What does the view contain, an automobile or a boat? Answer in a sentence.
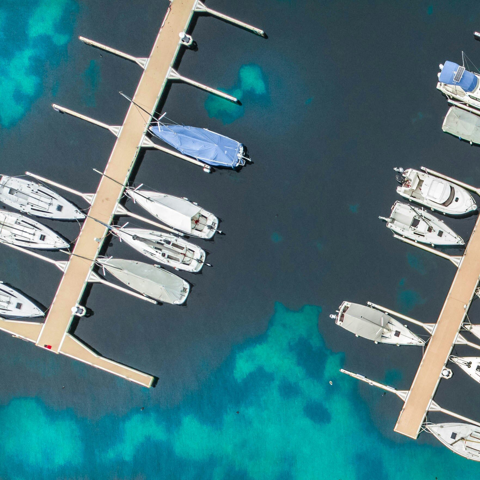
There is a boat in the scene.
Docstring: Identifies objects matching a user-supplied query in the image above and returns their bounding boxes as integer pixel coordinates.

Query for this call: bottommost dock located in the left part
[58,333,155,387]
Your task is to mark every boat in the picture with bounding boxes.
[0,174,91,232]
[430,56,480,111]
[0,282,52,329]
[379,199,472,260]
[0,207,76,262]
[57,246,194,301]
[420,412,480,461]
[76,212,208,271]
[449,348,480,384]
[115,90,252,168]
[441,107,480,149]
[385,168,480,221]
[89,168,222,240]
[327,301,434,364]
